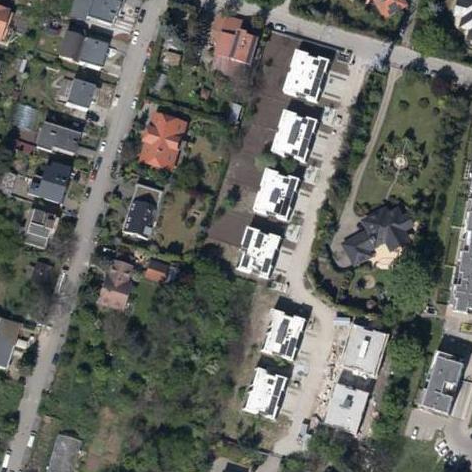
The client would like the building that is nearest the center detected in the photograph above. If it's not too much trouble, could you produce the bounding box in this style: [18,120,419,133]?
[236,227,282,281]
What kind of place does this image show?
residential area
